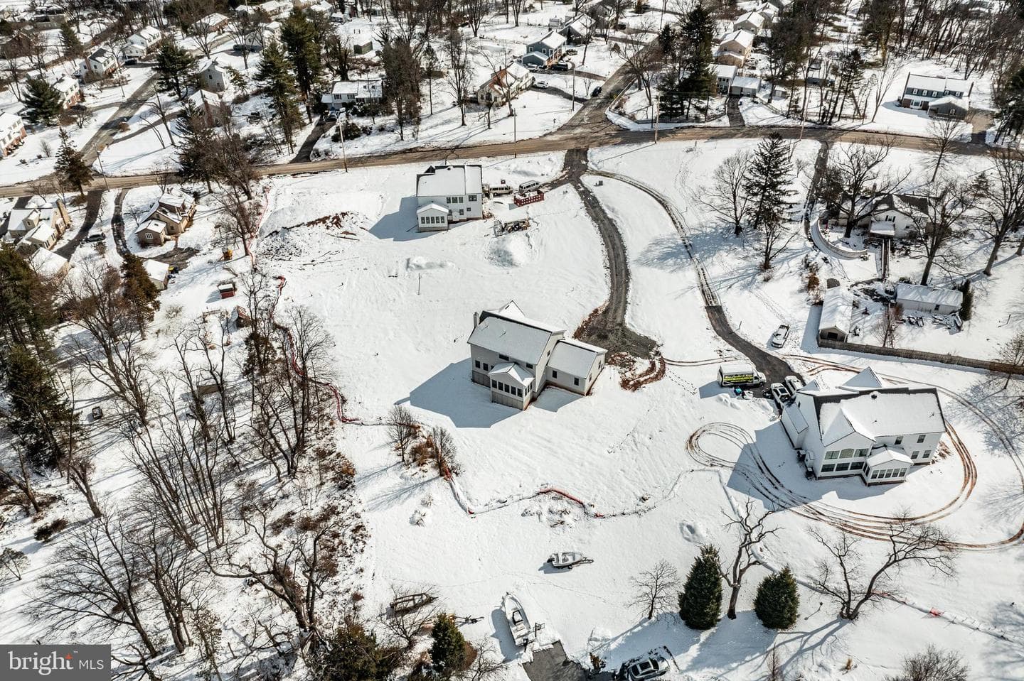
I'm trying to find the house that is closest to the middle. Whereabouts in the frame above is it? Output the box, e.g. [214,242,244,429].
[467,299,618,410]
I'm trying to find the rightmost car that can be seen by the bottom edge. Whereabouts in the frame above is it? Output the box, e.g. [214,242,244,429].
[623,650,674,681]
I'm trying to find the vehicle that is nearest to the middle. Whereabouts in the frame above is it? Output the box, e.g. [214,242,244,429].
[500,217,530,234]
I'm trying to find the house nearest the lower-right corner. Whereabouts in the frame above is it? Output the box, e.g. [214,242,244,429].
[775,364,951,490]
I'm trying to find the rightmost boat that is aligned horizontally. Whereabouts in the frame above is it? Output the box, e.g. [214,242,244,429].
[542,547,594,569]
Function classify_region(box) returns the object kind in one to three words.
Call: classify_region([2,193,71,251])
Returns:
house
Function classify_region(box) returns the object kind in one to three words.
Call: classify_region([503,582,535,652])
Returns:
boat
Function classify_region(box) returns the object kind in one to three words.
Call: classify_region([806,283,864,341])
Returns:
building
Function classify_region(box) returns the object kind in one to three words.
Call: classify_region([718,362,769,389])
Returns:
truck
